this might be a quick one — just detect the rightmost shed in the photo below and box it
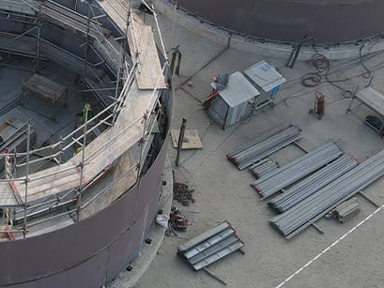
[243,61,287,111]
